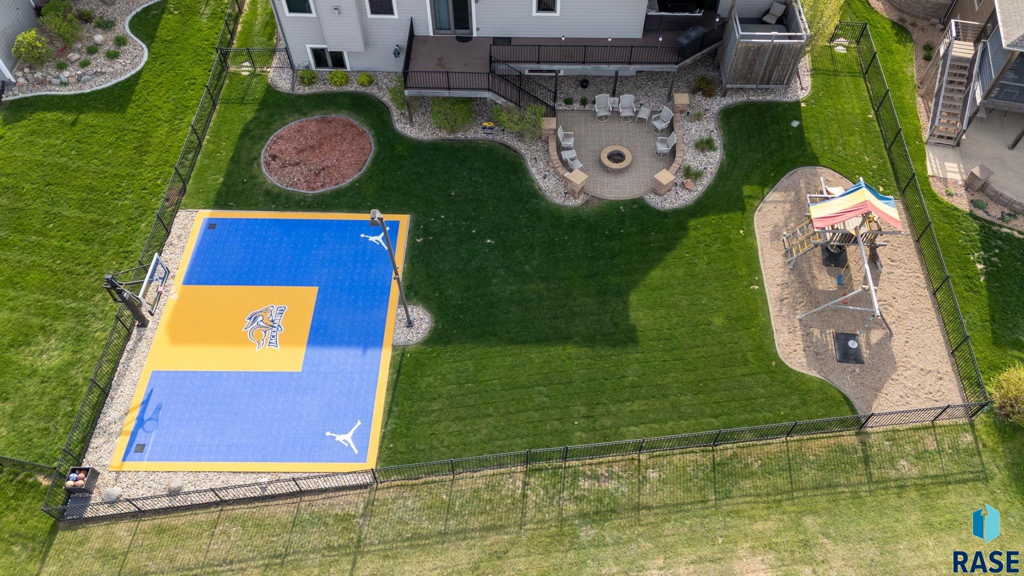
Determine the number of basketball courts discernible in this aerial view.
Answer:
one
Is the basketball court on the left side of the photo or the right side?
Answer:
left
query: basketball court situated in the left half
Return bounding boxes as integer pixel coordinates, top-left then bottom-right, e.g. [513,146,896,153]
[107,211,410,473]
